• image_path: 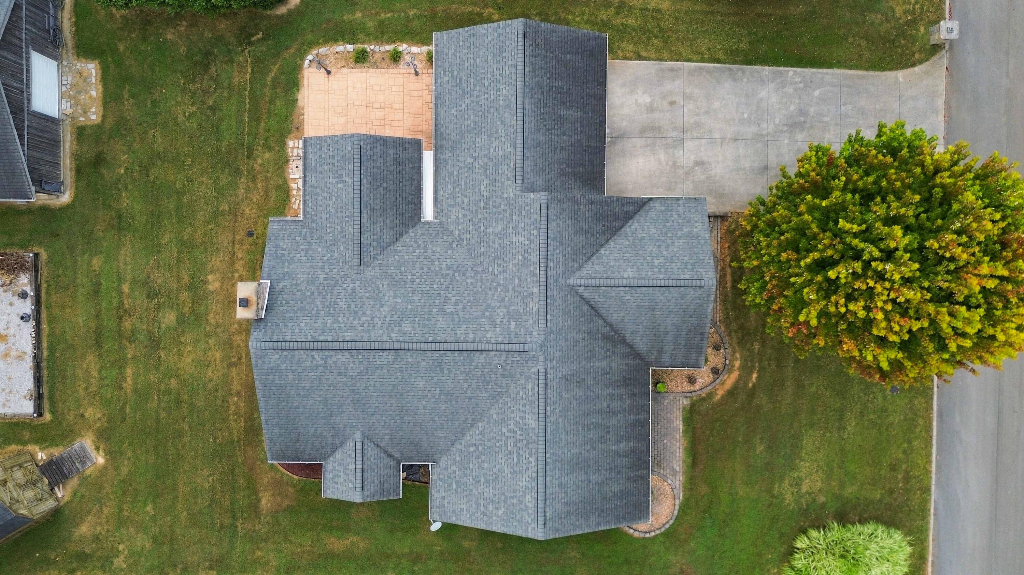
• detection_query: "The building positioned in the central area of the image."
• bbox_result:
[237,18,716,539]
